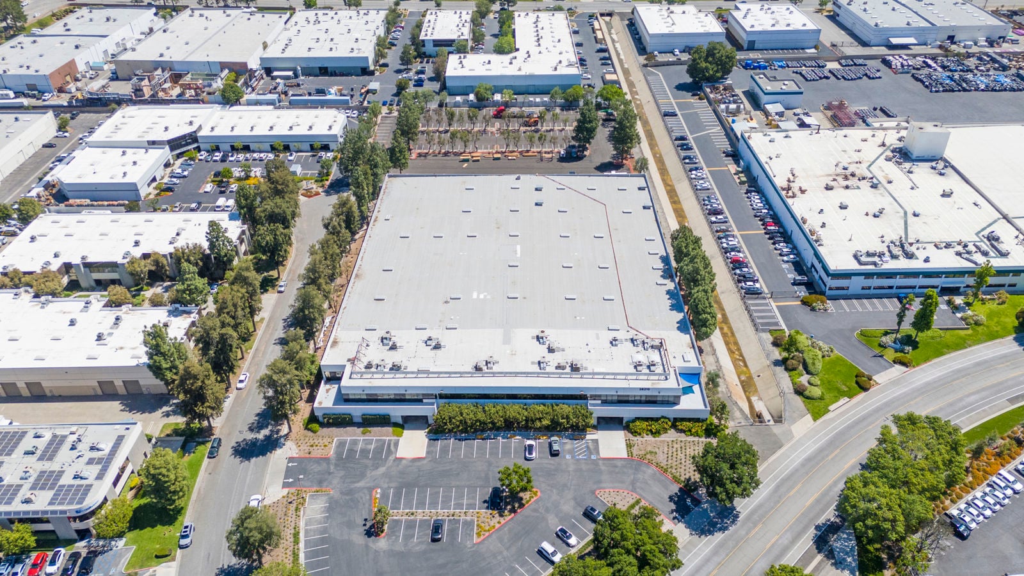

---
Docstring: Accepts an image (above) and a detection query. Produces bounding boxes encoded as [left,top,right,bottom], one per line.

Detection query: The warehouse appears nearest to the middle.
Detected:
[314,174,709,426]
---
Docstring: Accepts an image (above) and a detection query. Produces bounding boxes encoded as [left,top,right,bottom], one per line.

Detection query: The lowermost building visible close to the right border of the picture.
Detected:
[738,126,1024,298]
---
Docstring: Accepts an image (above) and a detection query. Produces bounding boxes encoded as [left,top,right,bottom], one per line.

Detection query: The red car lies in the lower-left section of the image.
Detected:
[28,550,48,576]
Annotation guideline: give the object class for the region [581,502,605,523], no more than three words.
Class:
car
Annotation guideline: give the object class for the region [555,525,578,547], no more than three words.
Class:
car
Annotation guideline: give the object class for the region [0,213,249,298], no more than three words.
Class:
building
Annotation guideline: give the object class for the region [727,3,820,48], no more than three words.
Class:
building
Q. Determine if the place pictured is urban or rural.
urban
